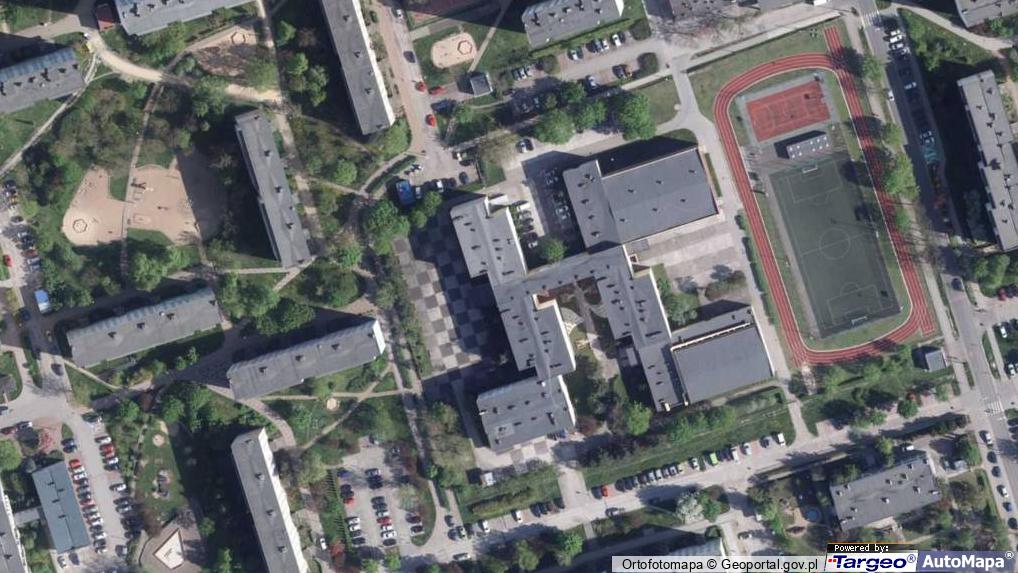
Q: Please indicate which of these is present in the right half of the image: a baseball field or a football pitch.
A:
football pitch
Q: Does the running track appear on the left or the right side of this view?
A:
right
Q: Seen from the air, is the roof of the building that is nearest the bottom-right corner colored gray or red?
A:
gray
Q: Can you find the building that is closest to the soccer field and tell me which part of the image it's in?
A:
top right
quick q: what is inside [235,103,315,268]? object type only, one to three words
building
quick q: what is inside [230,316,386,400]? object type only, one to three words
building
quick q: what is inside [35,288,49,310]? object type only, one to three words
vehicle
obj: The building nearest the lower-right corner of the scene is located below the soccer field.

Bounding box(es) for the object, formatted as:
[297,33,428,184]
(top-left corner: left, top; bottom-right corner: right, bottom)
[830,454,941,530]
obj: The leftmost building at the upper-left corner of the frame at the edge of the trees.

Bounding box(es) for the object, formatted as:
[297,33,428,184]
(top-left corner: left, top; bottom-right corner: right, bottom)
[0,49,92,109]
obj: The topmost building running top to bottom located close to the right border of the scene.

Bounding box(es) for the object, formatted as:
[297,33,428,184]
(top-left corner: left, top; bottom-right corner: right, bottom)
[953,64,1018,252]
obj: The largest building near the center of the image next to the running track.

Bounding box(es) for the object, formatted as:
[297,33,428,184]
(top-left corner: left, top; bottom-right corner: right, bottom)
[450,144,774,454]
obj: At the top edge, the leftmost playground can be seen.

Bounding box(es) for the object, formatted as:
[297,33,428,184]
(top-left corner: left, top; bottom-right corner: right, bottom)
[195,25,261,65]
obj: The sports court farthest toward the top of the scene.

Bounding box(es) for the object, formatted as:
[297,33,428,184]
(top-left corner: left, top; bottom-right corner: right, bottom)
[404,0,494,30]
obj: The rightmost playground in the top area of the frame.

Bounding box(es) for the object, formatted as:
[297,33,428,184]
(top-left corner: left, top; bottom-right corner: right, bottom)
[432,33,477,68]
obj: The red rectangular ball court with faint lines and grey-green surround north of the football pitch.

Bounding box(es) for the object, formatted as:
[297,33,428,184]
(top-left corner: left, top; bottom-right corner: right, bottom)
[736,71,841,154]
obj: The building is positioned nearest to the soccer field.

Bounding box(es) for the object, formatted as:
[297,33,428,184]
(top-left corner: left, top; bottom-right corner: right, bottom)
[786,131,829,160]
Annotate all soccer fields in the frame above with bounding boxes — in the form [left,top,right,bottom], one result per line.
[769,149,900,338]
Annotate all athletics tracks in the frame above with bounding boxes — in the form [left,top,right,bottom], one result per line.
[716,25,936,365]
